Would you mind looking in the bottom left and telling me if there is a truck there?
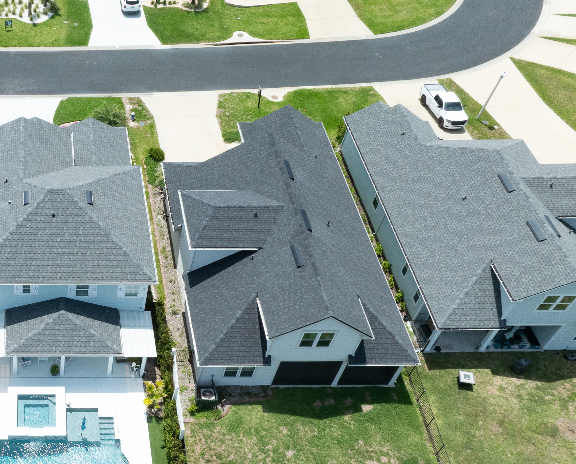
No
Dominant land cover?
buildings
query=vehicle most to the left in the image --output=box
[120,0,141,13]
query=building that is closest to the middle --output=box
[162,102,422,388]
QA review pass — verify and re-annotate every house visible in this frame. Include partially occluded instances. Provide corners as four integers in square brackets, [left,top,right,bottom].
[0,118,159,377]
[162,102,422,388]
[342,101,576,352]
